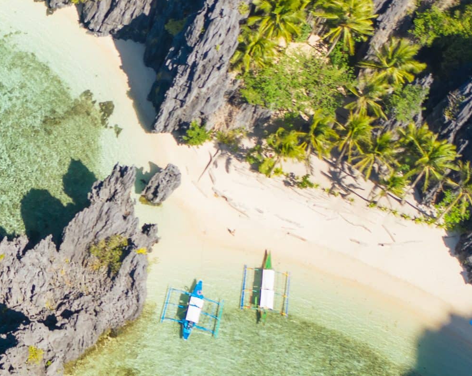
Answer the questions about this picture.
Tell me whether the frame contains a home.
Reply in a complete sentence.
No, this view has no home in it.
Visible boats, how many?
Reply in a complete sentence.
In total, 2 boats can be seen.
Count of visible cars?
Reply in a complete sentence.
No cars are visible.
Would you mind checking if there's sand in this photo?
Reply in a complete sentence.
Yes, sand shows up in the scene.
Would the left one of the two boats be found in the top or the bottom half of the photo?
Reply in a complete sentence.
The left one of the two boats sits in the bottom half of the picture.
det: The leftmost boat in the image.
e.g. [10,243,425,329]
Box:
[159,279,228,344]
